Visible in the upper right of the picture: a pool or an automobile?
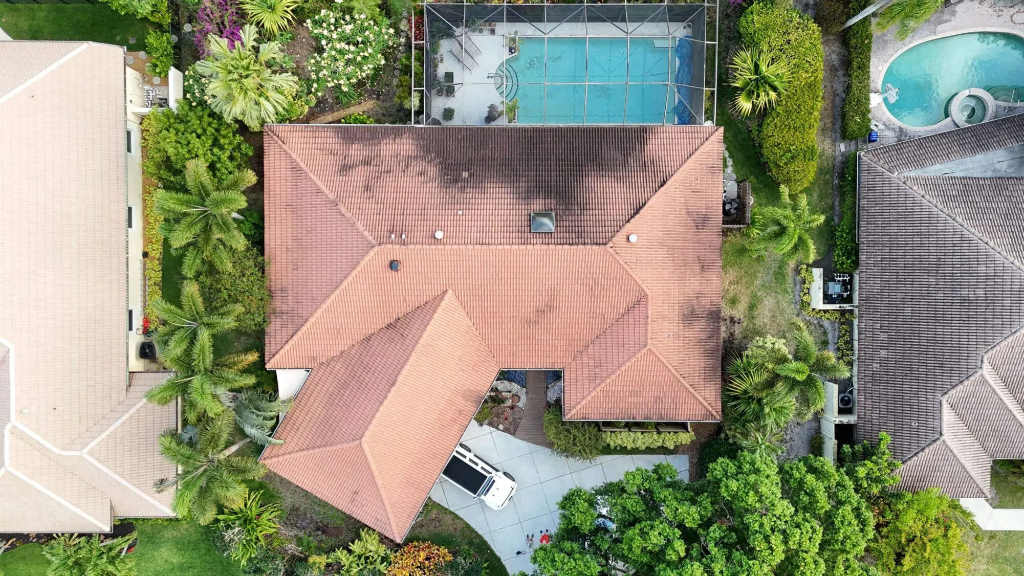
pool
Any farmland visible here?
No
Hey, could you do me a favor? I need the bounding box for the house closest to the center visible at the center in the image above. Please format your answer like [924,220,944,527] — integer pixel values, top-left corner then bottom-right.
[258,123,725,545]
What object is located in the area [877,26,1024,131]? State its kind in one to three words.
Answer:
swimming pool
